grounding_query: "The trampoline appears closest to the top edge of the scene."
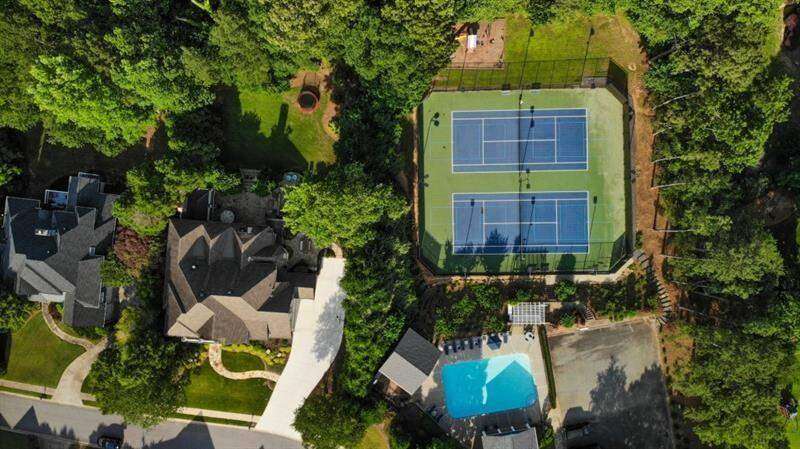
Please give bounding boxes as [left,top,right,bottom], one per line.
[297,88,318,109]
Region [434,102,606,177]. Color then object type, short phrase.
blue tennis court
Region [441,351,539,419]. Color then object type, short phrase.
blue swimming pool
